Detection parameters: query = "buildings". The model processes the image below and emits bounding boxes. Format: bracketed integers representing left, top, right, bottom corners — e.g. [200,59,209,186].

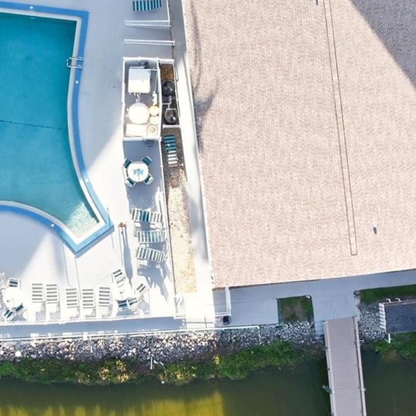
[376,299,416,341]
[181,0,416,289]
